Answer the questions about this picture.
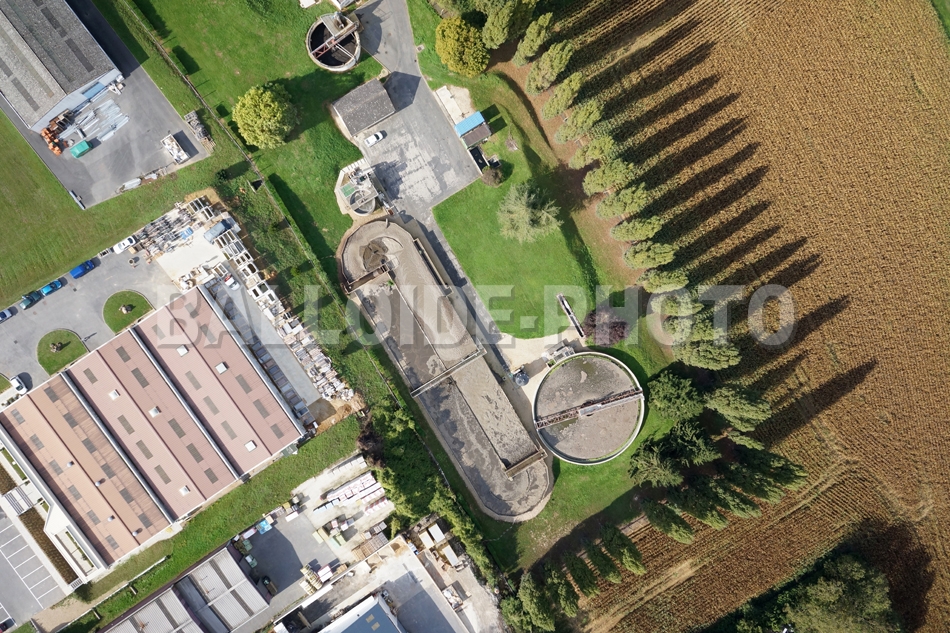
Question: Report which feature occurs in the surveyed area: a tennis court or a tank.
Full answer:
The one in the frame is a tank.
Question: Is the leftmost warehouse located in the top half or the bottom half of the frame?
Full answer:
You can find the leftmost warehouse in the top half.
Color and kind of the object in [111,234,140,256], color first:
white car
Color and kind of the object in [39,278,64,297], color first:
blue car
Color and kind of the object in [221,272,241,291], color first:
white vehicle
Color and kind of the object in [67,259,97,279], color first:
blue vehicle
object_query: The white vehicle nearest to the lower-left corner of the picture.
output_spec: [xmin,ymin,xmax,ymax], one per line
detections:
[7,375,31,394]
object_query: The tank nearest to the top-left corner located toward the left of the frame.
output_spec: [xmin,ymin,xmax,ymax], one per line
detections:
[305,10,365,76]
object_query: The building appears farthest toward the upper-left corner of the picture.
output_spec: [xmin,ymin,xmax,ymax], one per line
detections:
[0,0,122,130]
